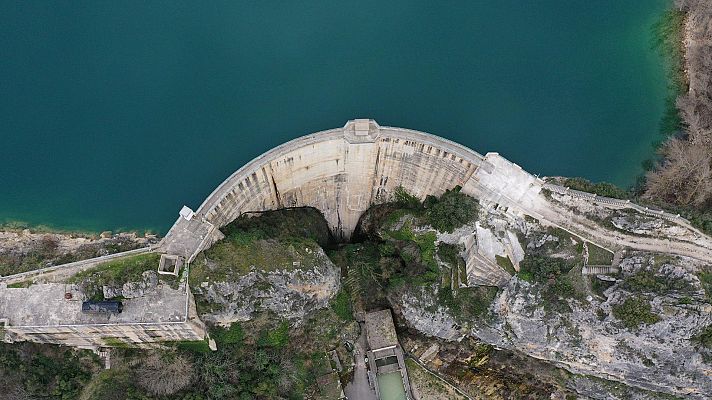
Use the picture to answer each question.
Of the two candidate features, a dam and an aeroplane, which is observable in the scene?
dam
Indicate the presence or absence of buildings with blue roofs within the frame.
No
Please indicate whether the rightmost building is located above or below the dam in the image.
below it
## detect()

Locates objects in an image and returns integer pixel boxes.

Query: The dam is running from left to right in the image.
[192,117,484,242]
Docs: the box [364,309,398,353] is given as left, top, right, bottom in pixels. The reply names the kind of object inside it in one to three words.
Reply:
building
